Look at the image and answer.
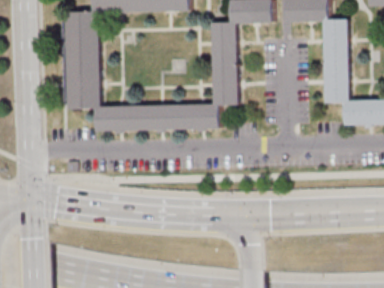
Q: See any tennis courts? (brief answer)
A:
No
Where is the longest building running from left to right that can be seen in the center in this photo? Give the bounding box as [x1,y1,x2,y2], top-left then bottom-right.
[92,103,221,132]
